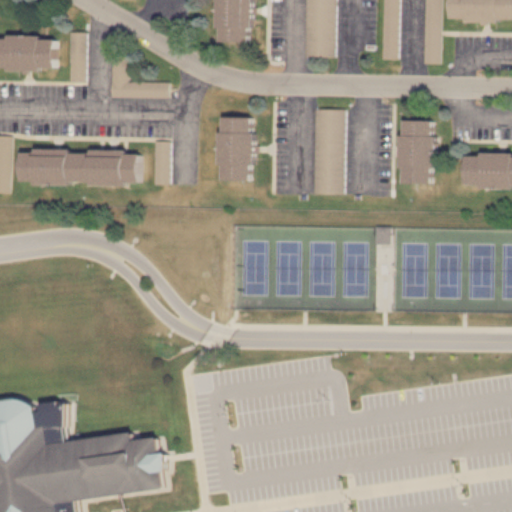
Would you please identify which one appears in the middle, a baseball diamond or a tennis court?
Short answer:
tennis court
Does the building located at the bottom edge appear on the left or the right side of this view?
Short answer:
left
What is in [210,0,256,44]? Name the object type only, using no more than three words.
building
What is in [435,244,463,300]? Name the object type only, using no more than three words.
tennis court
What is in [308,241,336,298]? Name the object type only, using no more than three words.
tennis court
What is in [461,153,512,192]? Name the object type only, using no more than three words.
building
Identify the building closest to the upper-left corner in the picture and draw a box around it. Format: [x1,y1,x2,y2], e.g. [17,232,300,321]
[0,36,62,72]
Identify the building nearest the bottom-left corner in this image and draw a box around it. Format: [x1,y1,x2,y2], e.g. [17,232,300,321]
[0,394,172,512]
